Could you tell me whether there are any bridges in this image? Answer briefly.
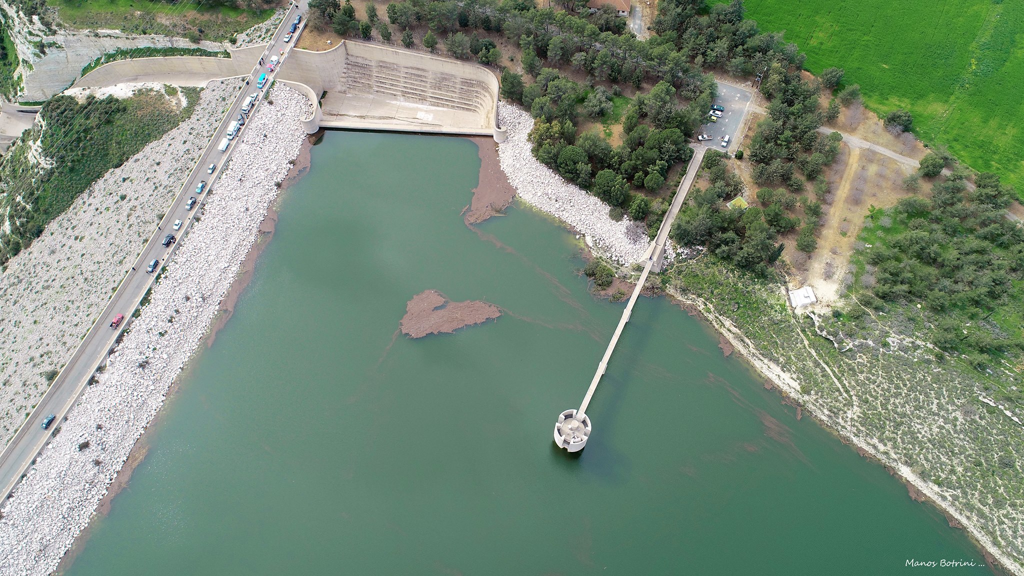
Yes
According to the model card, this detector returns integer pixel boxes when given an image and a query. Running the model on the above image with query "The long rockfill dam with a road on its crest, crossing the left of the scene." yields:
[0,1,326,576]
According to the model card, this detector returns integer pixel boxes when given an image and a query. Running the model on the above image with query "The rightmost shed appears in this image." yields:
[787,287,816,312]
